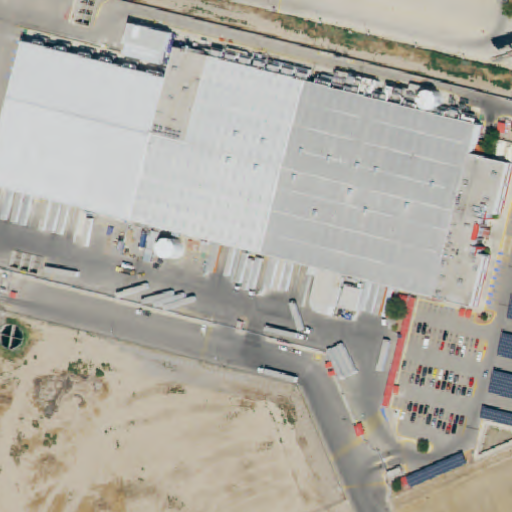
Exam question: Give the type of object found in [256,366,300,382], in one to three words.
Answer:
vehicle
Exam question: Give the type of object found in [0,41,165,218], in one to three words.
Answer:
building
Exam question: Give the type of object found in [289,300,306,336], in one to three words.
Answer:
vehicle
